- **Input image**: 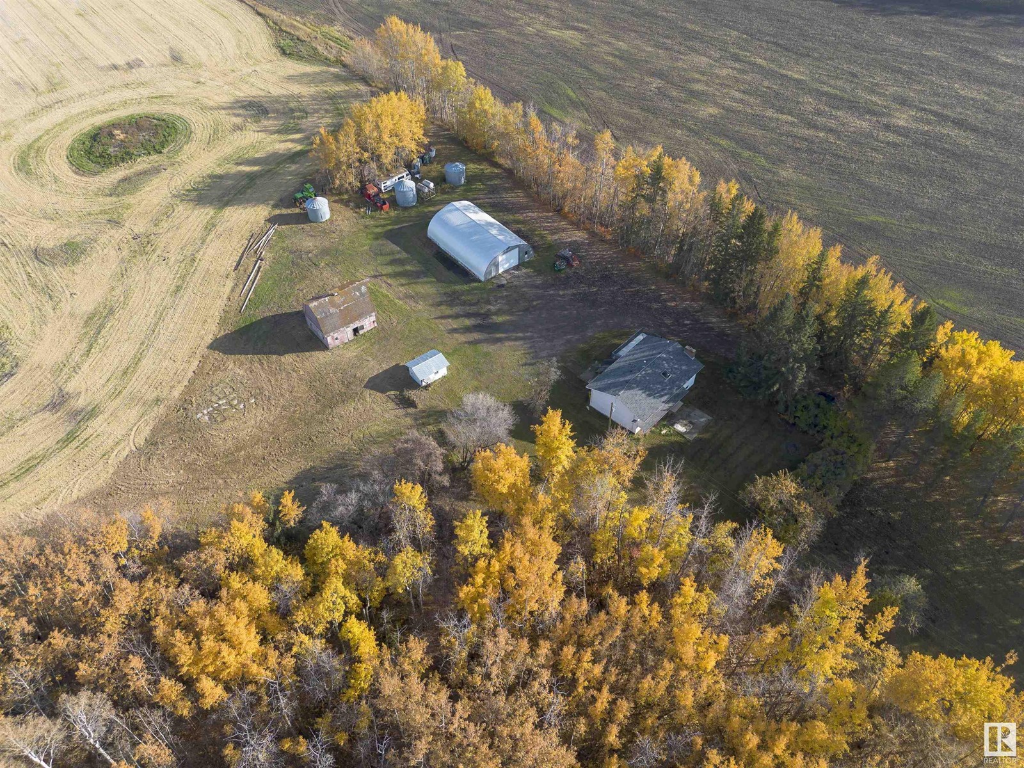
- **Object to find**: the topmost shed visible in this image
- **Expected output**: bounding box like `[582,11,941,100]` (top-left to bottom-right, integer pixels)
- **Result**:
[424,202,535,280]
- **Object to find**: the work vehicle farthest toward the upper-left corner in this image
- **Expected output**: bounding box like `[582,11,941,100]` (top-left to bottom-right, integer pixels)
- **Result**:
[291,189,318,209]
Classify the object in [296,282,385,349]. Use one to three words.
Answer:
barn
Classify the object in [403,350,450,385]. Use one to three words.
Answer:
shed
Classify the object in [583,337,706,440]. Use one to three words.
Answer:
house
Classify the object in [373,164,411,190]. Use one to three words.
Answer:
vehicle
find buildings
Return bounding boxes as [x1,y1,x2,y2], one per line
[296,282,385,349]
[403,350,450,385]
[424,202,535,280]
[583,337,706,440]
